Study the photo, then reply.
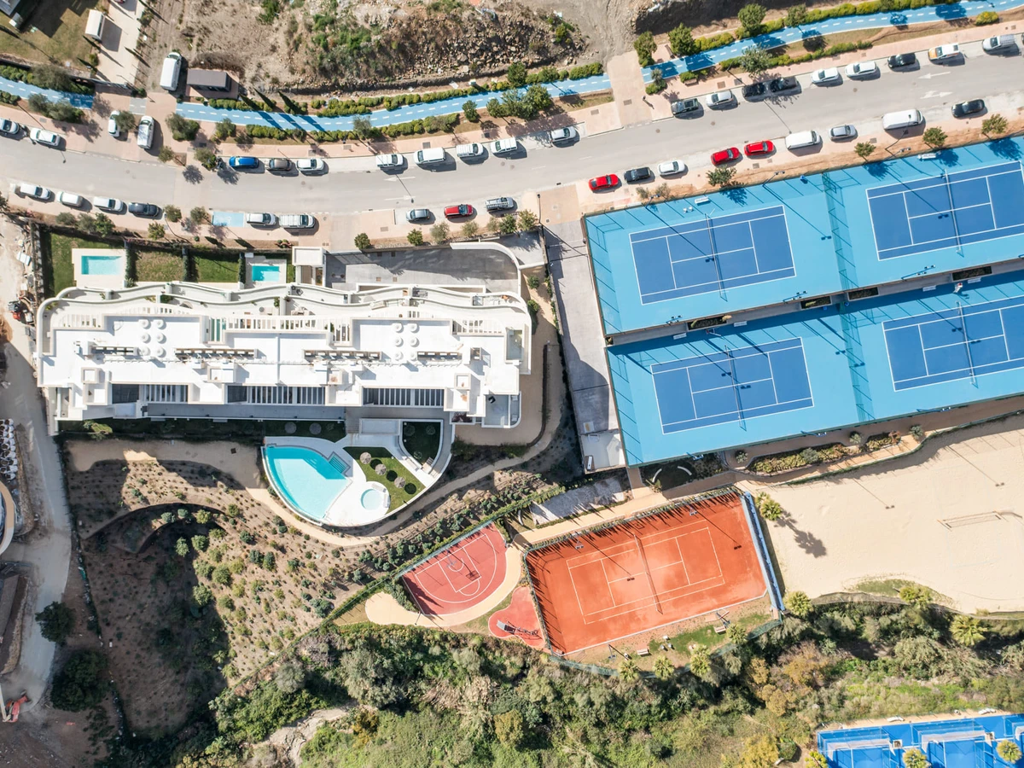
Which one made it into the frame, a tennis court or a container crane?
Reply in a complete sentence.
Looking from above, you can make out a tennis court.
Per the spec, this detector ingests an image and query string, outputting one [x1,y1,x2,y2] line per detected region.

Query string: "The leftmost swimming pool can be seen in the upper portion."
[72,248,126,290]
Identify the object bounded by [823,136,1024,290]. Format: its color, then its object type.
blue tennis court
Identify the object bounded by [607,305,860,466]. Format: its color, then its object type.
blue tennis court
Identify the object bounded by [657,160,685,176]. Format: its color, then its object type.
white car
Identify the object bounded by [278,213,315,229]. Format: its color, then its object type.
white vehicle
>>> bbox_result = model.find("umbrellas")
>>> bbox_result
[394,477,406,488]
[285,422,297,433]
[375,463,387,475]
[310,423,321,434]
[360,452,372,464]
